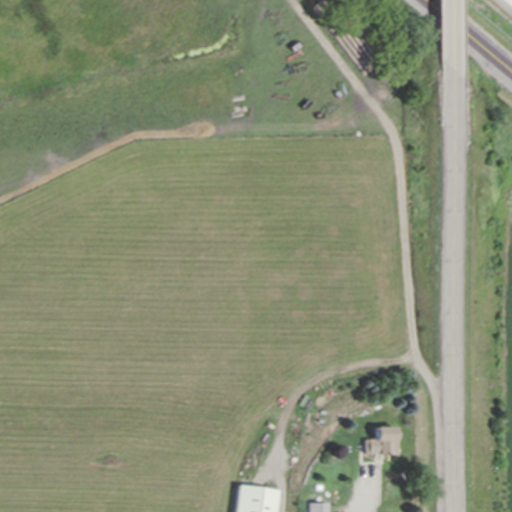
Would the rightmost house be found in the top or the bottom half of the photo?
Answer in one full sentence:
Seen from above, the rightmost house lies in the bottom half of the view.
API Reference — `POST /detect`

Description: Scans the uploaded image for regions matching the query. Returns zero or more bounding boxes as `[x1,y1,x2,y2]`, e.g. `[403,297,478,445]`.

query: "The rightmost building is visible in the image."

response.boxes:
[366,428,404,456]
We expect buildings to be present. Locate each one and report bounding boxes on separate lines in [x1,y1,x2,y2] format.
[238,486,283,512]
[366,428,404,456]
[308,503,330,512]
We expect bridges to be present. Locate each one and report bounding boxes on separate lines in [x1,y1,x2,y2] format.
[444,0,470,76]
